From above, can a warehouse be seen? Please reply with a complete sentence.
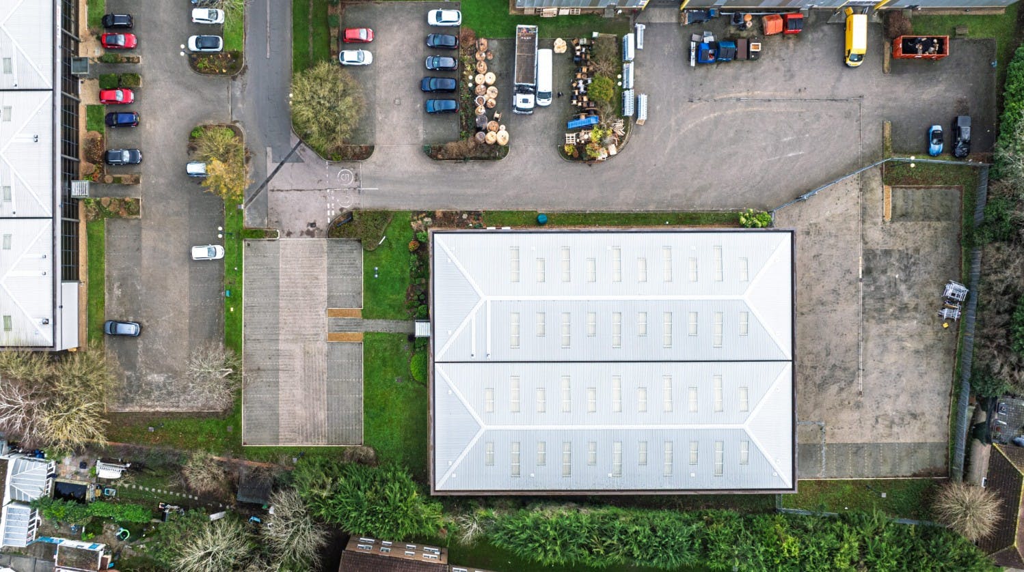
Yes, the photo shows a warehouse.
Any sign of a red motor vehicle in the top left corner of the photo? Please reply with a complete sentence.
Yes, in the top left corner of the photo there is a red motor vehicle.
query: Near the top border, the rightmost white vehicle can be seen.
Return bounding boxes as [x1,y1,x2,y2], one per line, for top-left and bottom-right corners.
[845,3,868,65]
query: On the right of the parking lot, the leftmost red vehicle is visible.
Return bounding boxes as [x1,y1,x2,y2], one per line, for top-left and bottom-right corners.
[343,26,374,43]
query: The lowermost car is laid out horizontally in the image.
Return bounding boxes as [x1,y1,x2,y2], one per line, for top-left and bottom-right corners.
[106,320,143,336]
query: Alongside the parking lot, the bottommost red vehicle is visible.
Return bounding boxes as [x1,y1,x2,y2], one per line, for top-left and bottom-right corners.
[100,87,136,104]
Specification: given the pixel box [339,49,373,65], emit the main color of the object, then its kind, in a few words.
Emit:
white car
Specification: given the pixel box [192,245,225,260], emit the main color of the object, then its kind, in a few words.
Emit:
white car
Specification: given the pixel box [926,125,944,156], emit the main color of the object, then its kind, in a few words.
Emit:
blue car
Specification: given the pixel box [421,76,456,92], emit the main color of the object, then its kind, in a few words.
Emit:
blue car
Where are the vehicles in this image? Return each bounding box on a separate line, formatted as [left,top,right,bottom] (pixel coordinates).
[107,111,141,127]
[189,34,224,51]
[514,24,536,115]
[106,320,143,336]
[845,3,868,65]
[421,76,456,92]
[105,148,143,165]
[429,8,461,25]
[343,26,374,43]
[339,49,373,65]
[426,55,457,71]
[192,245,225,260]
[100,87,136,104]
[188,161,213,176]
[926,125,944,156]
[951,115,971,158]
[101,32,138,49]
[102,12,134,29]
[191,9,225,24]
[426,98,458,114]
[427,33,458,49]
[535,47,553,105]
